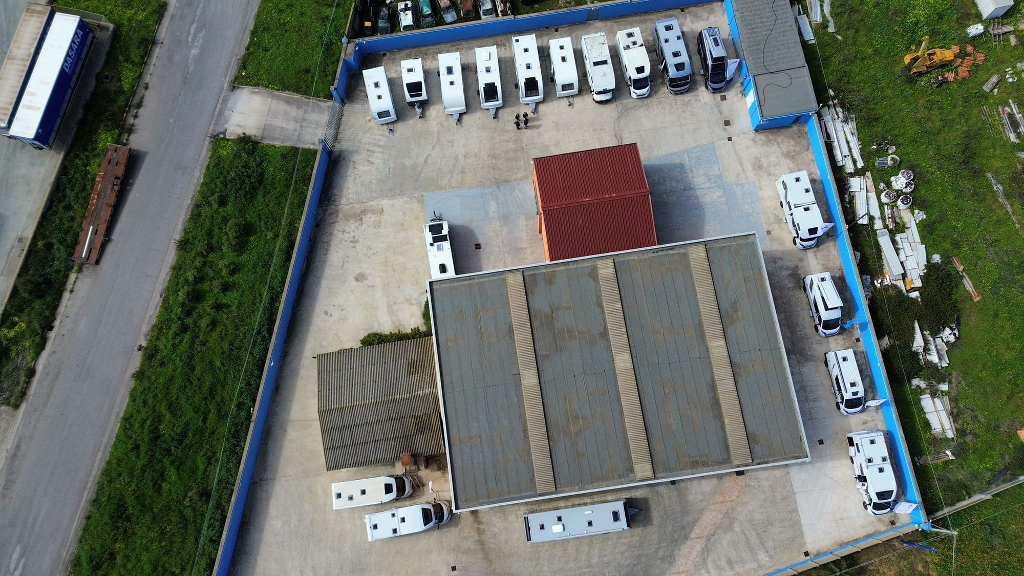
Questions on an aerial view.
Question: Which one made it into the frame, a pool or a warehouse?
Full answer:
There is a warehouse in the scene.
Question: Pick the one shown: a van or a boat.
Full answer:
I can see a van in this picture.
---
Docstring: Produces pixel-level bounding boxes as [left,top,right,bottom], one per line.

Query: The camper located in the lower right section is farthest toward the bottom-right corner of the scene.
[846,430,899,514]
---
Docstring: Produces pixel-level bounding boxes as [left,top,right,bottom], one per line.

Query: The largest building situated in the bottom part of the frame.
[427,233,809,512]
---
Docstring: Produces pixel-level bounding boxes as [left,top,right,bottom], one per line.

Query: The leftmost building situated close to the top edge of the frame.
[722,0,818,131]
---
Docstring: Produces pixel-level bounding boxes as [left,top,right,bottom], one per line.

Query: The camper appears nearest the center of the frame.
[422,211,457,280]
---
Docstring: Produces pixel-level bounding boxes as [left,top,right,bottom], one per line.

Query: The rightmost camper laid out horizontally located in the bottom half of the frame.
[524,500,644,543]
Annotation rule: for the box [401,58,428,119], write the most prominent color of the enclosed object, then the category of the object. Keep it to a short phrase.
white camper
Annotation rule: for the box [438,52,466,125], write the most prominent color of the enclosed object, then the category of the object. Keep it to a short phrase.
white camper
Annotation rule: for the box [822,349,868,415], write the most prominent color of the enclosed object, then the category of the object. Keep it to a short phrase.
white van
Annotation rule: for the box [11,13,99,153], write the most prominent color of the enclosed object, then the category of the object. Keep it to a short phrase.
white trailer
